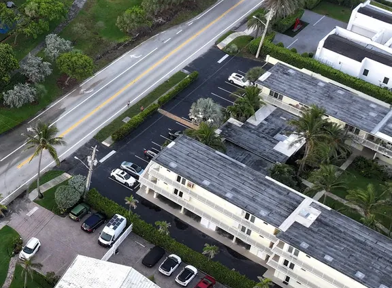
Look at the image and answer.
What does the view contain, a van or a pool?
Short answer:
van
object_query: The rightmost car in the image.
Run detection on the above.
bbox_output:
[225,71,252,88]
